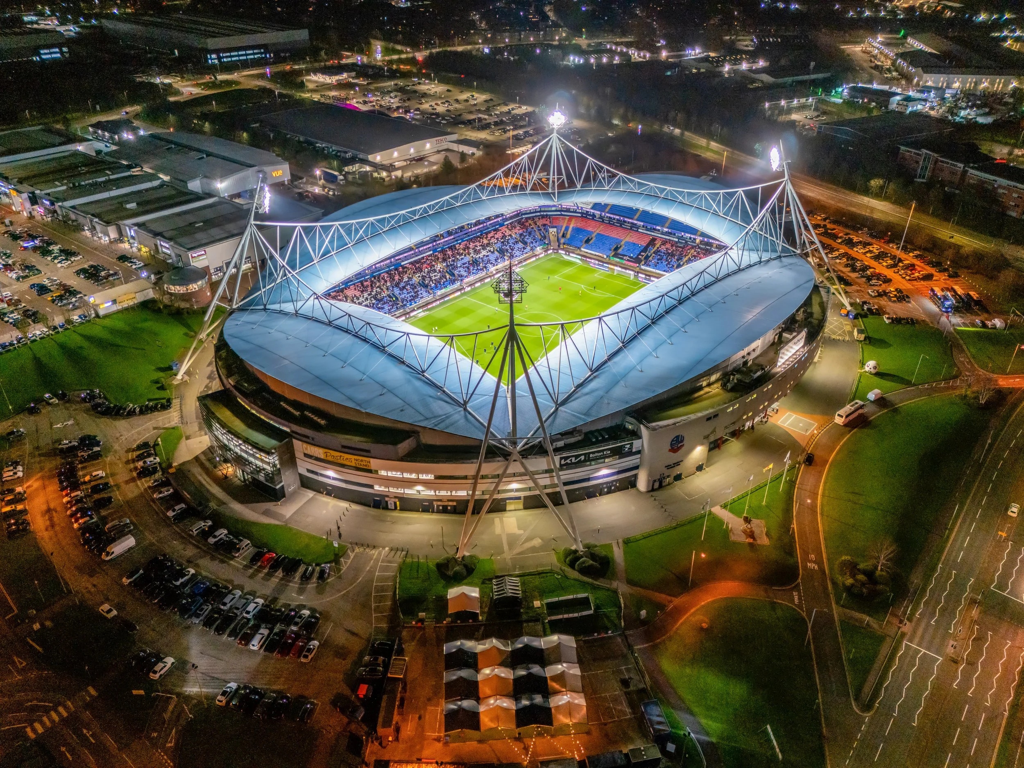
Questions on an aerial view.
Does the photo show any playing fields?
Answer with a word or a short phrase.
Yes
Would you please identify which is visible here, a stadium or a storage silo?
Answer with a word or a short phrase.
stadium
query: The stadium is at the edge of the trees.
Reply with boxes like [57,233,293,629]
[196,134,828,516]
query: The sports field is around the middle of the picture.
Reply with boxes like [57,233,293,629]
[405,251,648,382]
